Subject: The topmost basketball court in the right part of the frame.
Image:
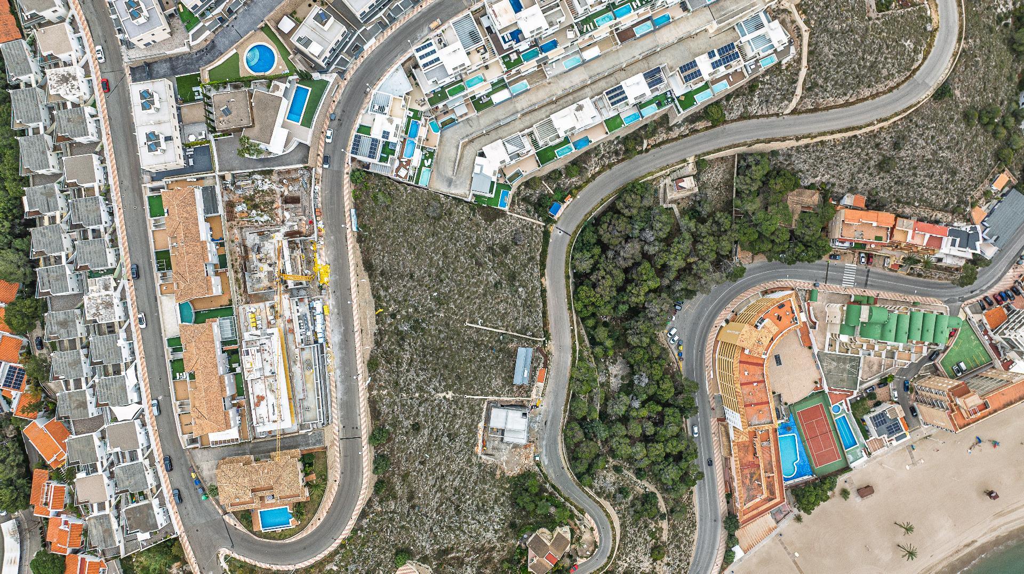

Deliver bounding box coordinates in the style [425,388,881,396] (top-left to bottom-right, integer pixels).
[818,351,863,390]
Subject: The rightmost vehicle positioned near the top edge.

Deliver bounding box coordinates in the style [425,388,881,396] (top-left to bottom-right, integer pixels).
[426,15,444,30]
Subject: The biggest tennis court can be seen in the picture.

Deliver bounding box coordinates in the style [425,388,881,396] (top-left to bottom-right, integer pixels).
[789,394,852,479]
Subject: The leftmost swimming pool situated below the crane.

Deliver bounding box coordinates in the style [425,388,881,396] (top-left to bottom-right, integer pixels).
[264,506,295,532]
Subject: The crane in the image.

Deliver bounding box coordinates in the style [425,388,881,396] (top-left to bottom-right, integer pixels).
[272,241,320,463]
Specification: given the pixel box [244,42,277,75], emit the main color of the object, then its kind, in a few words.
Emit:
blue swimming pool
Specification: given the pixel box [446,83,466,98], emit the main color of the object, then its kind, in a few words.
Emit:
green swimming pool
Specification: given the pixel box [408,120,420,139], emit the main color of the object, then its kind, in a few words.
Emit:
blue swimming pool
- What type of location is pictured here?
residential area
